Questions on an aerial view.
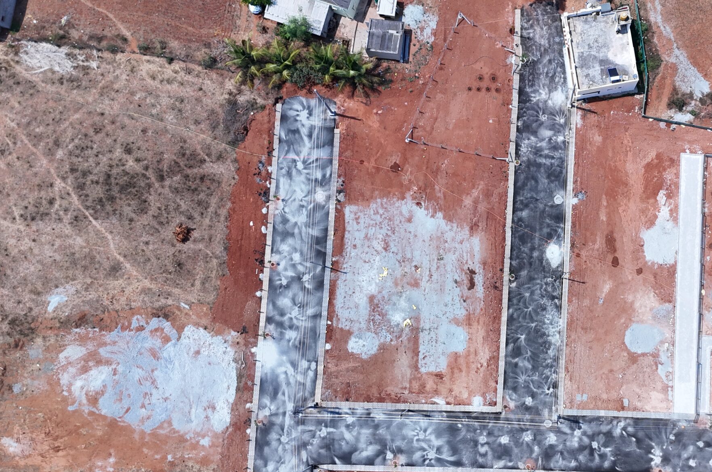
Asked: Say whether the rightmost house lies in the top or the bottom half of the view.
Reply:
top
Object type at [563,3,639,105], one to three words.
house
